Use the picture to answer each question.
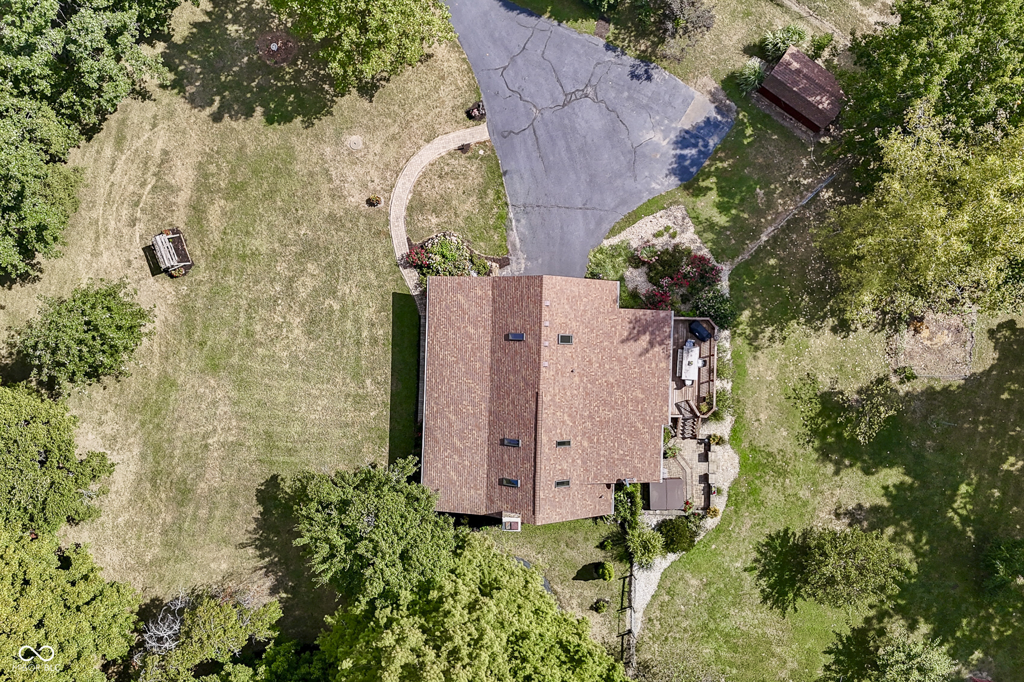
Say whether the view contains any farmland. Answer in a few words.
No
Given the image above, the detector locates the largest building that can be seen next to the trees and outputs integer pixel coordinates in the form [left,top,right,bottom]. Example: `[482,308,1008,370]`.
[419,274,675,532]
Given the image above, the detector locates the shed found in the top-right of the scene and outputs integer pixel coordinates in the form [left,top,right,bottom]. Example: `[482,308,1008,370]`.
[755,44,852,134]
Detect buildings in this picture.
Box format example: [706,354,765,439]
[419,274,675,532]
[755,44,852,134]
